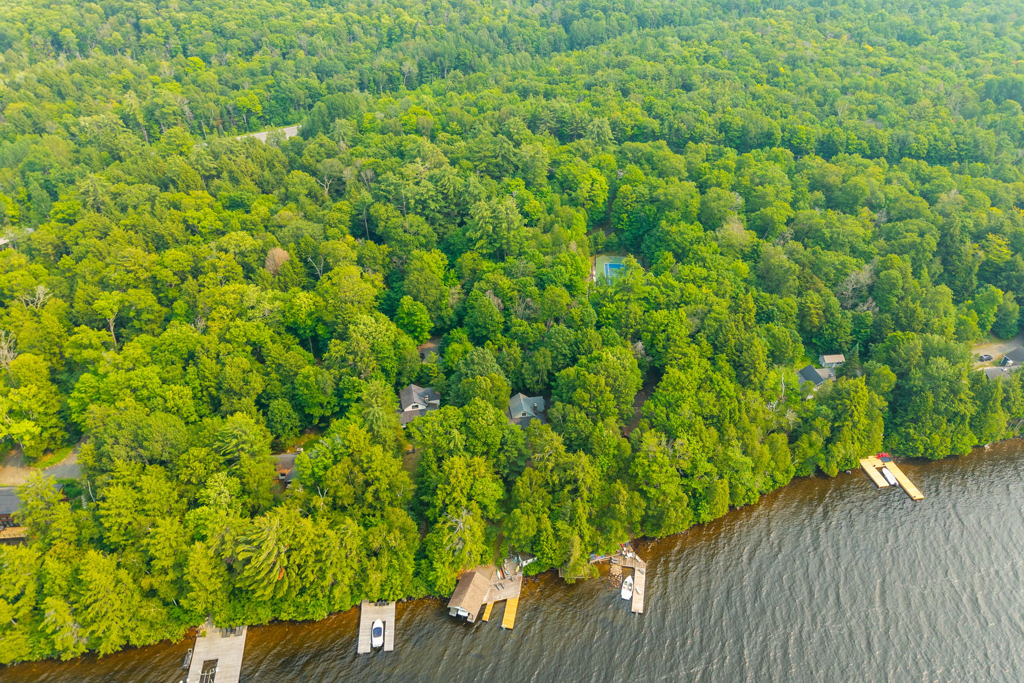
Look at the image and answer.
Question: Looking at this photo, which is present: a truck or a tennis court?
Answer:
tennis court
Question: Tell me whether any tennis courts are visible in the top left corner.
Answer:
No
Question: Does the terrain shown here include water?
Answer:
Yes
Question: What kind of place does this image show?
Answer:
forest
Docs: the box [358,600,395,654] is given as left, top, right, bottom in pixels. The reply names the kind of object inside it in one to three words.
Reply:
pier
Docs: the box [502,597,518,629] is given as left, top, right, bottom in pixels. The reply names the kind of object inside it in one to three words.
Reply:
pier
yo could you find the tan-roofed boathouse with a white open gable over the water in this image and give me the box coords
[447,572,490,625]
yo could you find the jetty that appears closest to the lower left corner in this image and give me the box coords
[187,626,247,683]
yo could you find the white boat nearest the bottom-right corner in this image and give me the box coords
[883,467,899,487]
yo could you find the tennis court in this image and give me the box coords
[596,255,653,309]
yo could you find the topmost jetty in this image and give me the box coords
[860,456,924,500]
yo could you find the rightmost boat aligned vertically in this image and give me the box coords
[621,576,633,602]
